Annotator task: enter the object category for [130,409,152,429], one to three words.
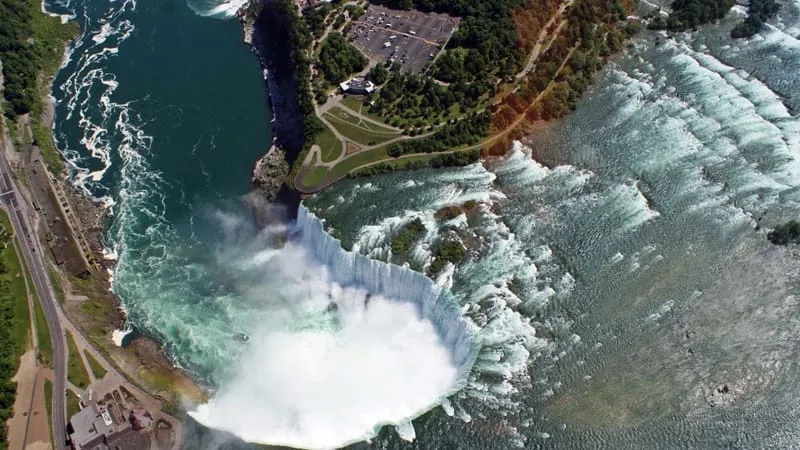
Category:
building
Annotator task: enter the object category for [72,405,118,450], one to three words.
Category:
building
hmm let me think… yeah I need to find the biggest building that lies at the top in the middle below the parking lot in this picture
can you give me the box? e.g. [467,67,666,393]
[340,78,374,99]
